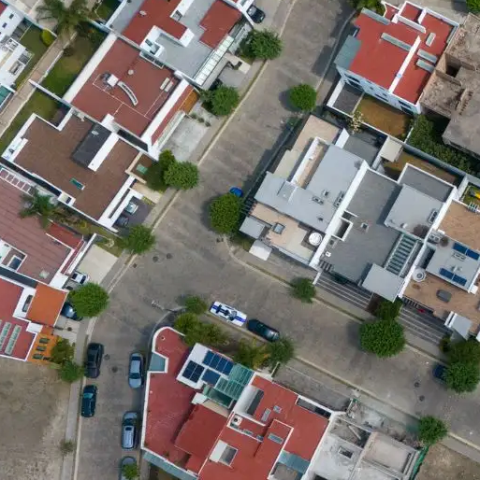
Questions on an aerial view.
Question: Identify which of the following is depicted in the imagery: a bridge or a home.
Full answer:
It is a home that can be seen here.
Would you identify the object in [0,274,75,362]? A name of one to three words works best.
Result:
house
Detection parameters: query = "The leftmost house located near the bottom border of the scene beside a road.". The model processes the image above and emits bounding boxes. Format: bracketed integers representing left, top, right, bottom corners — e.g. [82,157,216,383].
[140,327,265,480]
